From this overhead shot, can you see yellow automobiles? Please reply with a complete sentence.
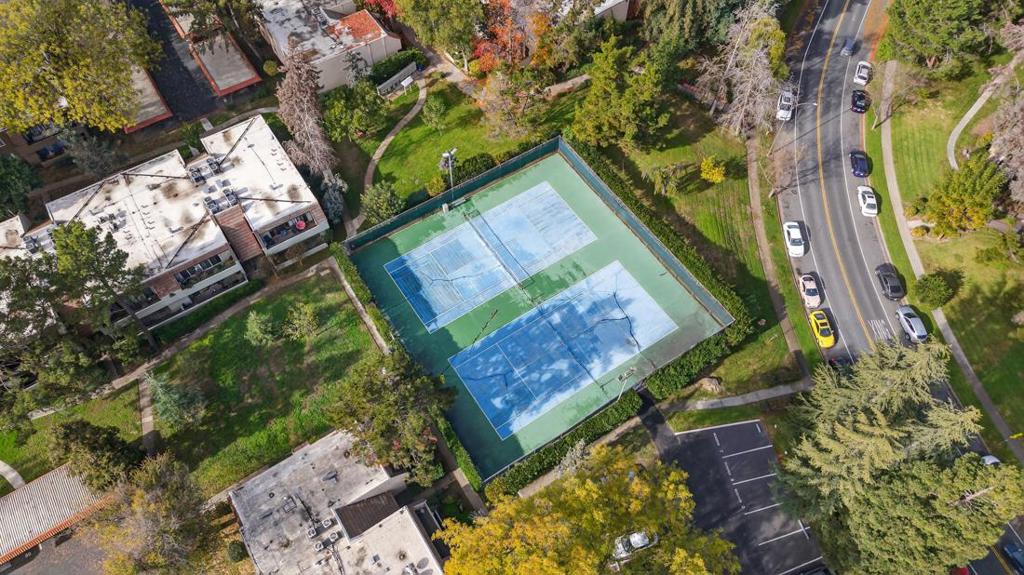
Yes, a yellow automobile can be made out from above.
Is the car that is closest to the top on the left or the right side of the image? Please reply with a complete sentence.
The car that is closest to the top appears in the right half of the scene.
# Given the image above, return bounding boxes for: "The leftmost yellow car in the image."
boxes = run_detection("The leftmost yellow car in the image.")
[806,309,835,350]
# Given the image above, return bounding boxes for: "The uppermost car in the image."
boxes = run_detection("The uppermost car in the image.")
[838,36,860,59]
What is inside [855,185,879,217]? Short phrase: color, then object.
white car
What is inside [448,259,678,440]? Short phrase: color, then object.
blue tennis court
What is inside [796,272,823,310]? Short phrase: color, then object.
white car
